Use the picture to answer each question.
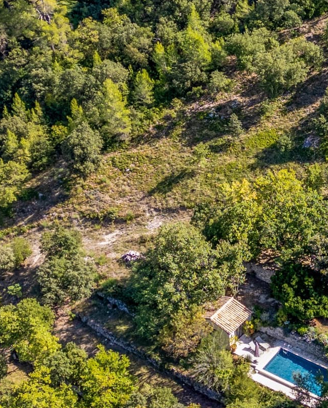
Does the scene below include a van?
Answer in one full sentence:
No, the scene contains no van.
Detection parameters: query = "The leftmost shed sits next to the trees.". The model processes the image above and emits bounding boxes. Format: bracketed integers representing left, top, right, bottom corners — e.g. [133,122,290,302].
[197,298,253,352]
